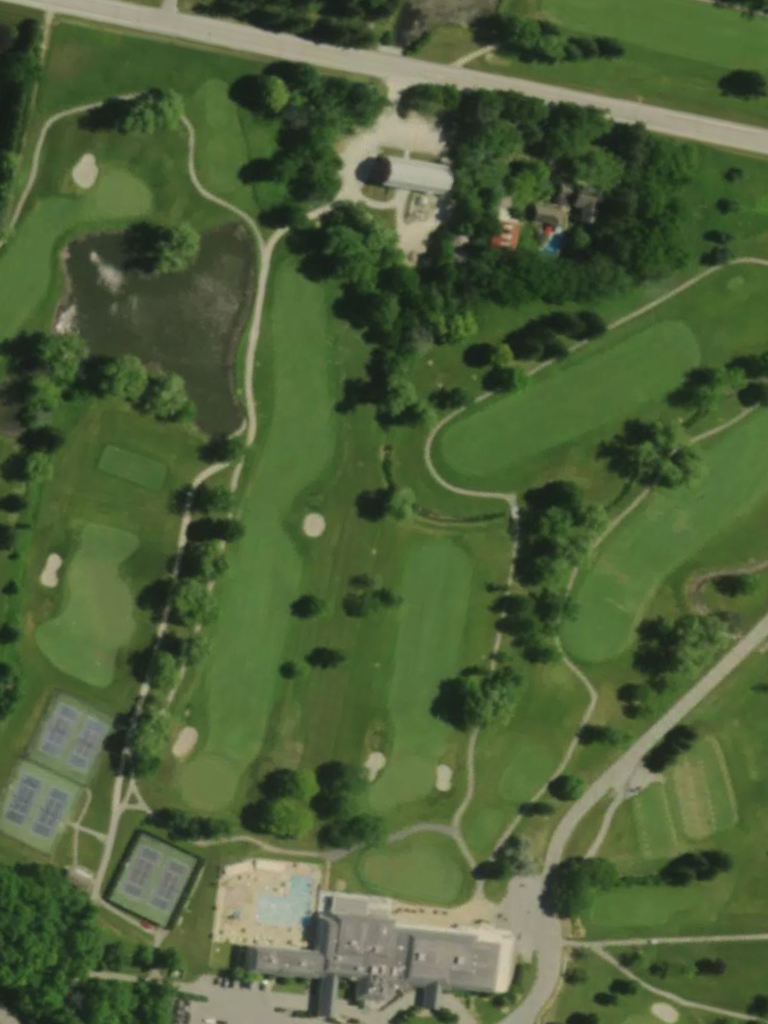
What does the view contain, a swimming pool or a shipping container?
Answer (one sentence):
The one in the frame is a swimming pool.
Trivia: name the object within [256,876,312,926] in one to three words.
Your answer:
swimming pool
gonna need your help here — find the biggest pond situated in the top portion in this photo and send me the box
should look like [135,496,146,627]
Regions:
[57,223,253,438]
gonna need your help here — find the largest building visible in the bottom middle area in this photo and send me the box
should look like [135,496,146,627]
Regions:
[245,895,514,1019]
